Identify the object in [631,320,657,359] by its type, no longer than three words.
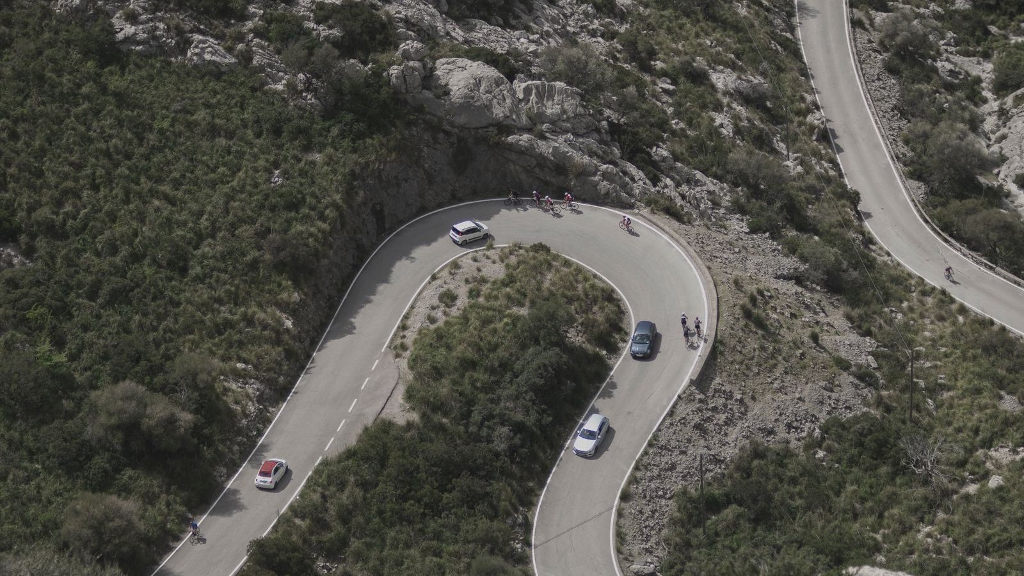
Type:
car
